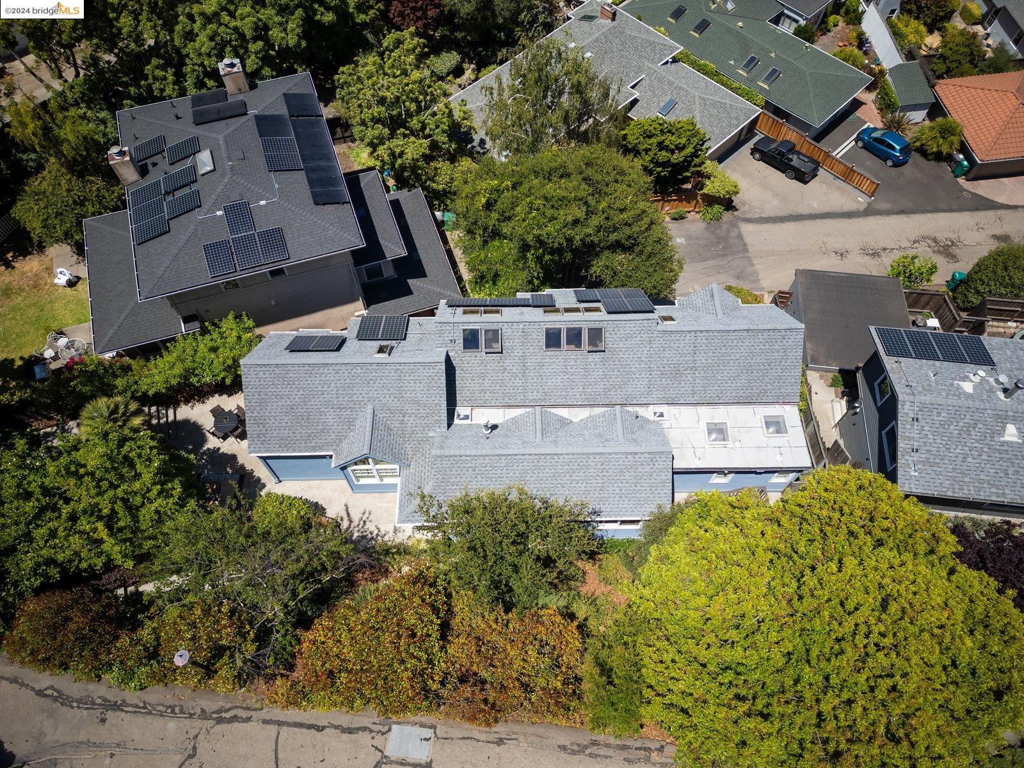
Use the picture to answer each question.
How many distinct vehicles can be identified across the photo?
2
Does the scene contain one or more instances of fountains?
No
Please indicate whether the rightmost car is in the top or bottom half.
top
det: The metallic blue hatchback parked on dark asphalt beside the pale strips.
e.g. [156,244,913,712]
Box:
[853,124,915,168]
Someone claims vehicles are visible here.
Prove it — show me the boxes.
[853,124,915,168]
[746,134,817,181]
